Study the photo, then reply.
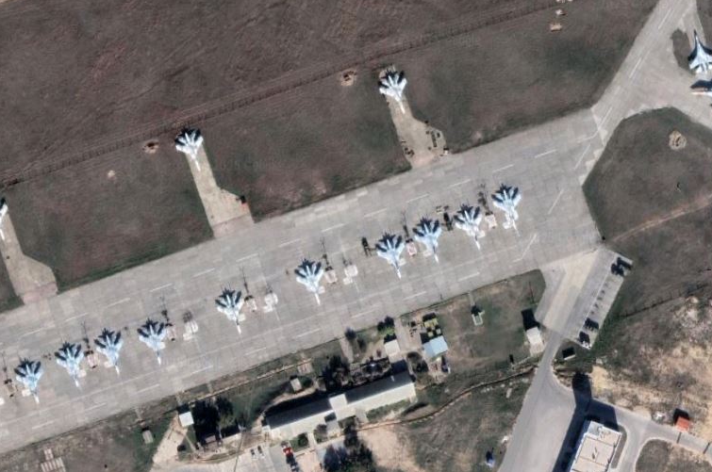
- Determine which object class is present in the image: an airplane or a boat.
airplane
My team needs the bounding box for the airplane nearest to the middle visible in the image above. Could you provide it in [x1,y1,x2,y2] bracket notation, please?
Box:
[377,237,405,278]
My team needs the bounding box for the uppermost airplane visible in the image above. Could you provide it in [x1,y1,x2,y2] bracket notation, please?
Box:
[690,36,712,76]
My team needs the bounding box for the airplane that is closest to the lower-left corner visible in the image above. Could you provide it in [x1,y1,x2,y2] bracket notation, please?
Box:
[16,362,44,403]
